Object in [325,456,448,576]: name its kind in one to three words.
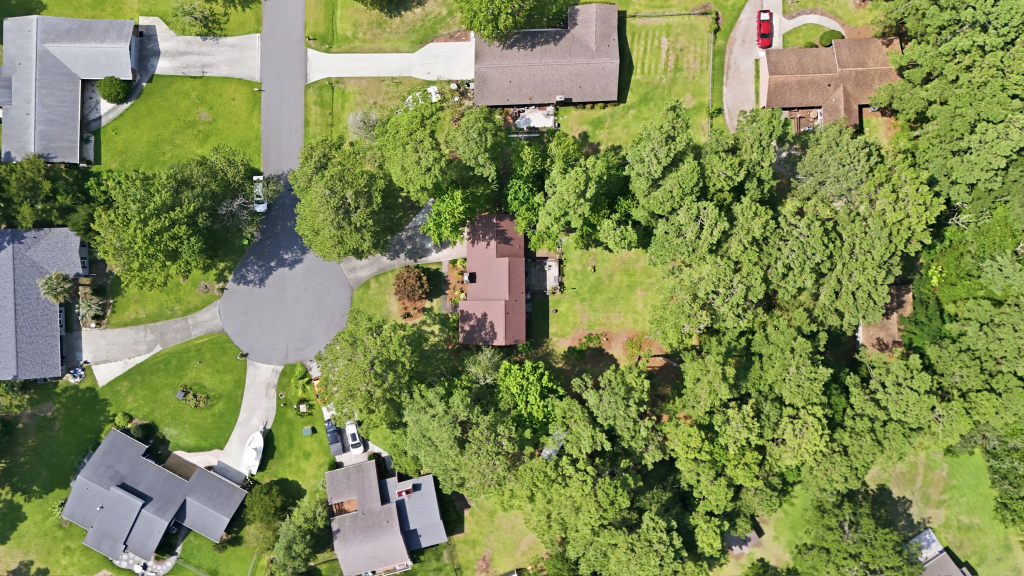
house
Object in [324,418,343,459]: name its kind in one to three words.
vehicle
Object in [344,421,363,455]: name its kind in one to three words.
car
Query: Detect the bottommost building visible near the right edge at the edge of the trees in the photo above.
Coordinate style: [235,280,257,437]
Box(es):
[904,525,973,576]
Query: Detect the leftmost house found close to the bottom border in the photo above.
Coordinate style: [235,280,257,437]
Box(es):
[61,428,248,562]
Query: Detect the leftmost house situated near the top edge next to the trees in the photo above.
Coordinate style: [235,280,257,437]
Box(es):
[0,15,141,164]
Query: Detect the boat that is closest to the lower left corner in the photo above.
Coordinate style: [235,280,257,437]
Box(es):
[239,430,263,482]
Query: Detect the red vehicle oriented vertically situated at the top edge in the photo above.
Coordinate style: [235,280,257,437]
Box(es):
[758,8,775,47]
